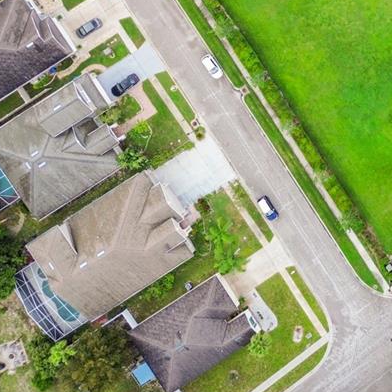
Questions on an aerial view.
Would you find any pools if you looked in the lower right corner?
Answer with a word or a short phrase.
No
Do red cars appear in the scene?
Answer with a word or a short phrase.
No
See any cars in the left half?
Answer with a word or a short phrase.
Yes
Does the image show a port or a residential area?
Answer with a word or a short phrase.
residential area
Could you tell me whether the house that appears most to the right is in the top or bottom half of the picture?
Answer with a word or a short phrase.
bottom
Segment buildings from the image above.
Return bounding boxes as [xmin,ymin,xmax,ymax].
[127,271,260,392]
[25,170,198,323]
[0,0,76,101]
[0,73,124,222]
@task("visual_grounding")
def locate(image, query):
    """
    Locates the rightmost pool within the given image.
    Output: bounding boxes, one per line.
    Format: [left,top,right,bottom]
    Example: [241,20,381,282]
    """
[42,281,79,322]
